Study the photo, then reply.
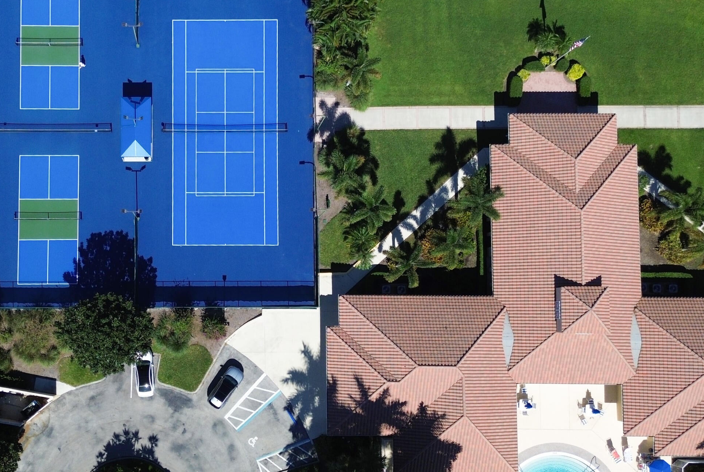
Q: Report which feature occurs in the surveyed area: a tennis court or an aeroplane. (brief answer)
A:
tennis court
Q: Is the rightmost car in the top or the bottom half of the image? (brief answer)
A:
bottom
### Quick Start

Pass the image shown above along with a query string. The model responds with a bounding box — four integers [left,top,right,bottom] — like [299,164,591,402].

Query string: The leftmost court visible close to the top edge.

[20,0,79,109]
